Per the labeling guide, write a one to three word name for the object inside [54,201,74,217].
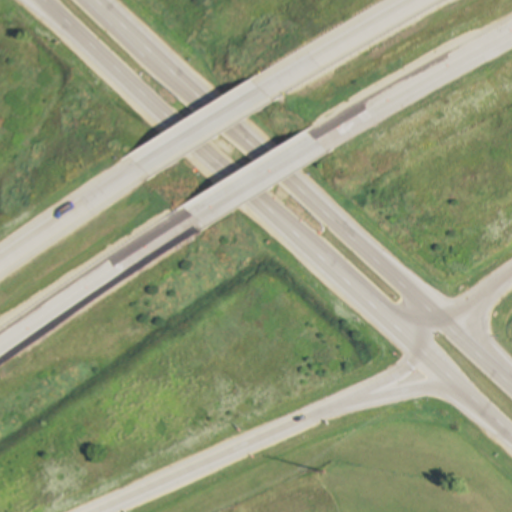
vehicle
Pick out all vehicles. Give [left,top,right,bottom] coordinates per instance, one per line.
[293,414,306,422]
[54,201,74,217]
